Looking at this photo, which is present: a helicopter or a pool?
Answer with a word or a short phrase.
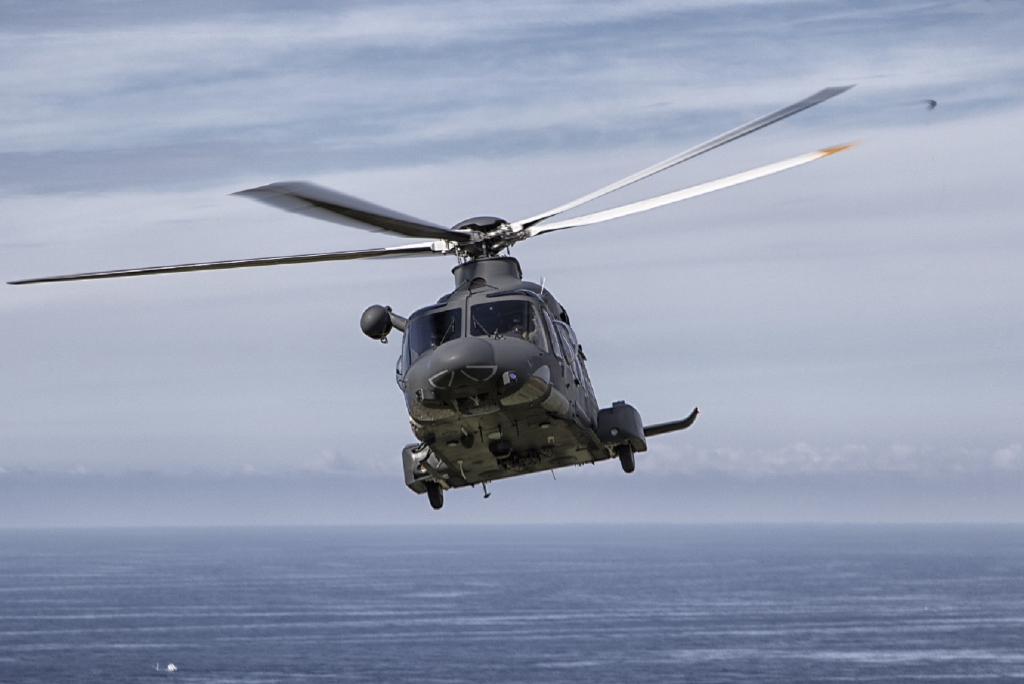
helicopter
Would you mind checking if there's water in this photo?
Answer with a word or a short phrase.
Yes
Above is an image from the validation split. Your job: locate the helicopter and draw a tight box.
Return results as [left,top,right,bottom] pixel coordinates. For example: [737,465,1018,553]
[13,91,871,509]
